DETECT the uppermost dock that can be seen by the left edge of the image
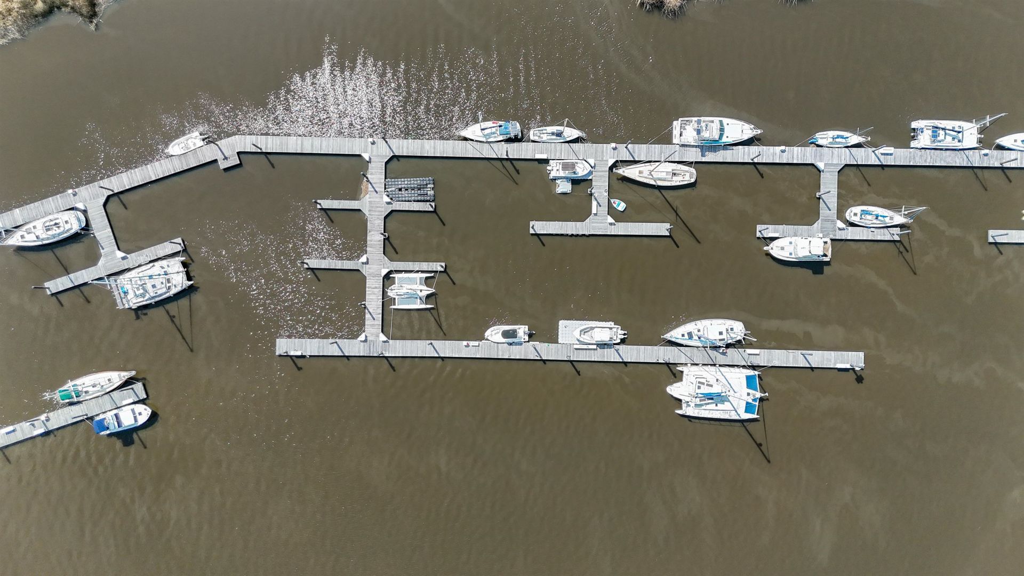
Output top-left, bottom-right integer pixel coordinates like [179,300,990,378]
[0,136,242,232]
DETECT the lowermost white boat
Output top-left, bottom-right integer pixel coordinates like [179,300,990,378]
[93,405,153,435]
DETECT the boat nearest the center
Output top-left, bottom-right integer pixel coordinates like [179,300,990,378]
[485,326,532,343]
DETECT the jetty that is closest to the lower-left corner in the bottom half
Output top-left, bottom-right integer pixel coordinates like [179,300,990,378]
[0,382,148,447]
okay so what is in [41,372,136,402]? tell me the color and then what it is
white boat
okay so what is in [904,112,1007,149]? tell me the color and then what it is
white boat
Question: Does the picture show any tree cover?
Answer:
No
